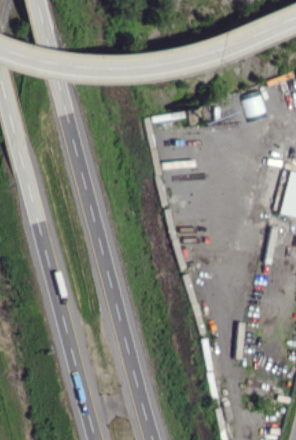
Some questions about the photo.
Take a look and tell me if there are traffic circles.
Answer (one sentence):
No, there appears to be no traffic circle in this shot.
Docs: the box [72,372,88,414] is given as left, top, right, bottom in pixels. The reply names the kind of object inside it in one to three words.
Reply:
vehicle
